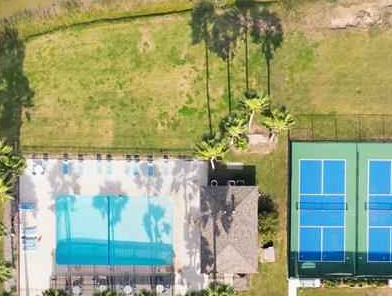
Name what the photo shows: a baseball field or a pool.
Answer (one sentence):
Visible in the photo is a pool.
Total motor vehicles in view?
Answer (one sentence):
Not a single motor vehicle can be seen.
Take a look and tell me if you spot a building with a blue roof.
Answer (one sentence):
No, this view has no building with a blue roof in it.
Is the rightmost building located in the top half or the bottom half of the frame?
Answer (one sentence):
Seen from above, the rightmost building lies in the bottom half of the view.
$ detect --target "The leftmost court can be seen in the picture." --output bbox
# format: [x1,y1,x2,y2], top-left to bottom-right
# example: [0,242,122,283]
[290,140,357,276]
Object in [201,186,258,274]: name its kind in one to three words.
building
